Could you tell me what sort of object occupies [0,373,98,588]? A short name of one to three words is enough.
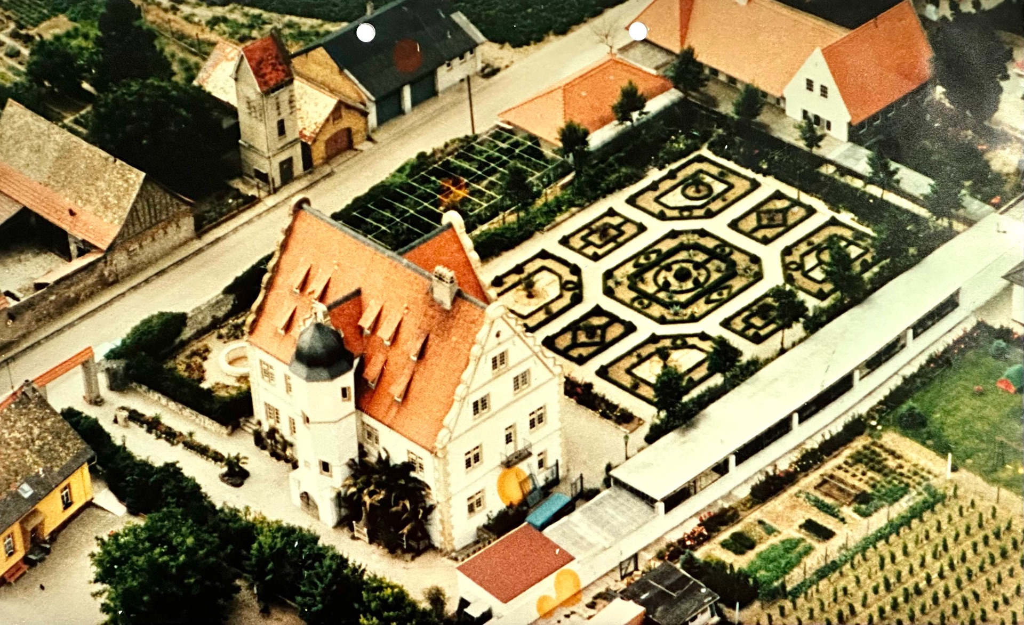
house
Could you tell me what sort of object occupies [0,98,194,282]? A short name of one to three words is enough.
barn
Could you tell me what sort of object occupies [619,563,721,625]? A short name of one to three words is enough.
shed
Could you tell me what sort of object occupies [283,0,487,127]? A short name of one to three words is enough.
building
